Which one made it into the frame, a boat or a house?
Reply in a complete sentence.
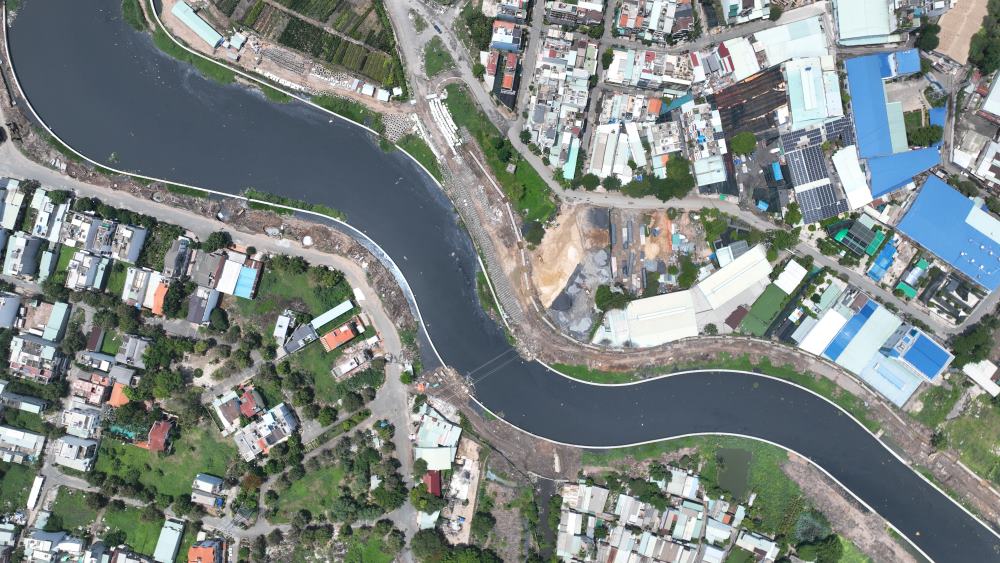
Looking from above, you can make out a house.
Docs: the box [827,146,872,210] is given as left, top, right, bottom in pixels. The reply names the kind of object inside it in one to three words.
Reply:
building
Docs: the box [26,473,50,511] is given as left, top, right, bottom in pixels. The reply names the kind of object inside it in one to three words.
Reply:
shed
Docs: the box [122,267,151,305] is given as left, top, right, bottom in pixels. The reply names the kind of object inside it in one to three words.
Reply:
house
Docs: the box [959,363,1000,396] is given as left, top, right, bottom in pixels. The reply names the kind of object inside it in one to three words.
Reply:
building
